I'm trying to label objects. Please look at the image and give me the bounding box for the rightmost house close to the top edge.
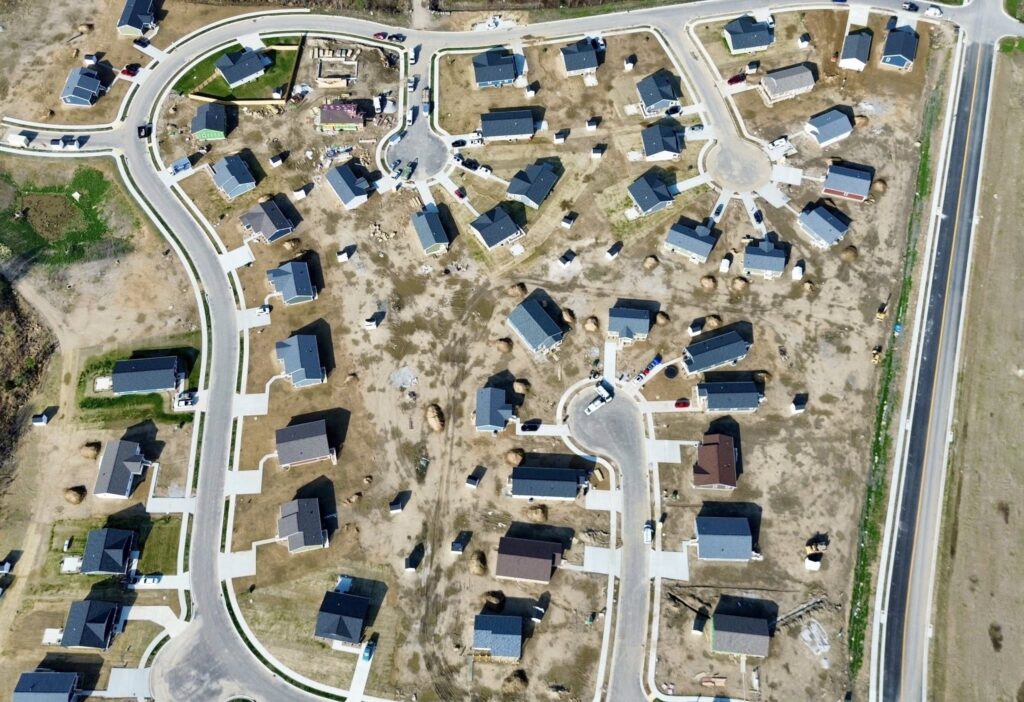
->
[881,27,917,70]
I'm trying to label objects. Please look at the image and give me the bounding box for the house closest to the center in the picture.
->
[508,299,563,357]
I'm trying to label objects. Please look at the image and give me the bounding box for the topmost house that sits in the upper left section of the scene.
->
[117,0,157,35]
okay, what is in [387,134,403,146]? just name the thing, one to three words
vehicle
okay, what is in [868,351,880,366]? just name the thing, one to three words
vehicle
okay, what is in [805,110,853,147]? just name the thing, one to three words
house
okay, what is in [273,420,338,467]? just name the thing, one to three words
house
